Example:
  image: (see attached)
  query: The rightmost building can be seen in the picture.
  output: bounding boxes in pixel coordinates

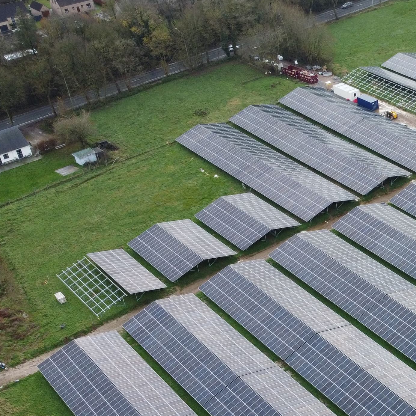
[333,81,360,101]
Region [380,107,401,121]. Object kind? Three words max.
work vehicle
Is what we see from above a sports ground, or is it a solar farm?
solar farm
